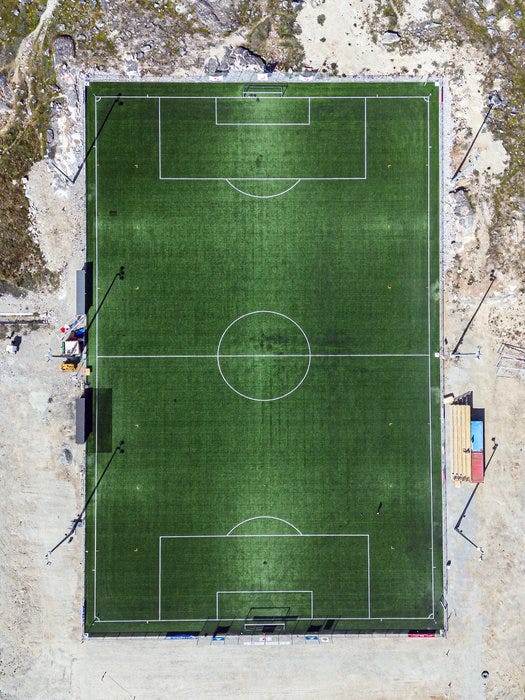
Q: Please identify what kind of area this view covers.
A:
sports ground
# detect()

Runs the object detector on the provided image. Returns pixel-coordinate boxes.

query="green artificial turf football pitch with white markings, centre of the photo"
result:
[84,82,444,636]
